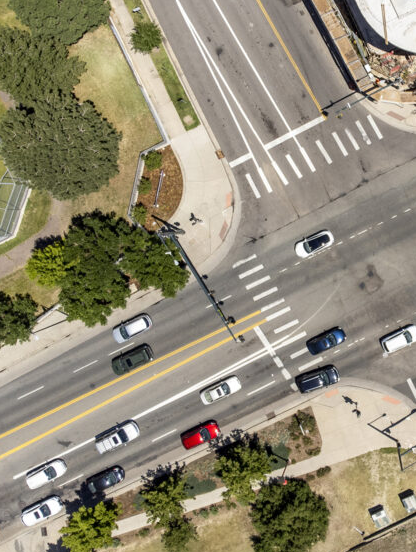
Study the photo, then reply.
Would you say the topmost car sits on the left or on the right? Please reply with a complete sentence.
The topmost car sits on the right side.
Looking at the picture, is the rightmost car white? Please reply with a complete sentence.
Yes, the rightmost car appears white.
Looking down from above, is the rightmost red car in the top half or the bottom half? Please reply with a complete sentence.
The rightmost red car sits in the bottom half of the picture.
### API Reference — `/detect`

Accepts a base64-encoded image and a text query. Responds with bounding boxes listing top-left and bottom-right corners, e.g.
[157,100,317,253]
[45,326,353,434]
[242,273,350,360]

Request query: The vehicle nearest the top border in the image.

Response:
[295,229,336,257]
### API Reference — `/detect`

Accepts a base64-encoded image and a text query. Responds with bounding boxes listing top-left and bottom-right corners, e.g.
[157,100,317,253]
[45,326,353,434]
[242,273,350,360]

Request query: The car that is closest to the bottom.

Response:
[21,494,64,525]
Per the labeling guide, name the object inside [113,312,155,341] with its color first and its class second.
white car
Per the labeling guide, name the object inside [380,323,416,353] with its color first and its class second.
white car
